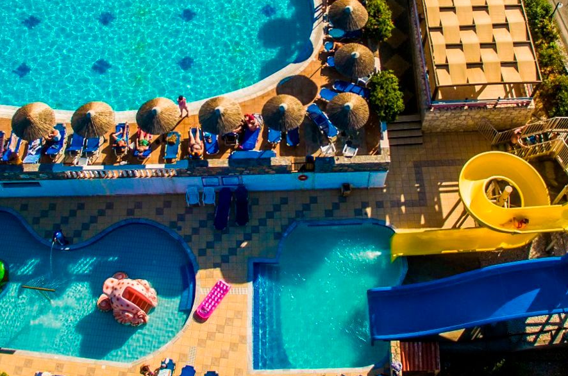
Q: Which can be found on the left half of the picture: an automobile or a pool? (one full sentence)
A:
Looking on the left half of the picture, you will find a pool.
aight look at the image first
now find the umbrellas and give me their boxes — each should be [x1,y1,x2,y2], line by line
[264,96,303,136]
[135,97,179,139]
[75,104,116,142]
[198,98,241,138]
[330,2,367,42]
[334,45,374,83]
[14,103,55,143]
[327,95,368,136]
